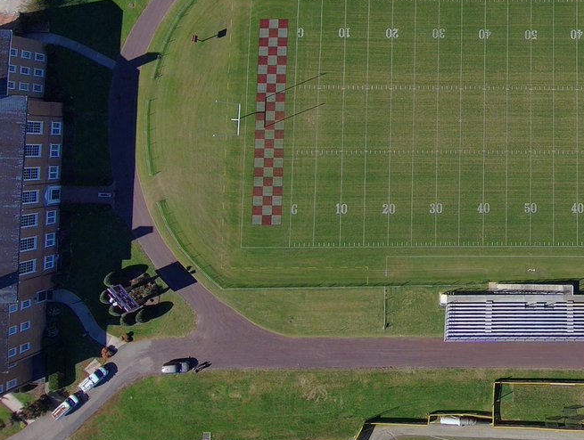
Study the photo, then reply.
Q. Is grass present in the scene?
Yes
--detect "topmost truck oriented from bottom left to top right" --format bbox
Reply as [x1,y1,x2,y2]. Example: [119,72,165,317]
[72,367,107,394]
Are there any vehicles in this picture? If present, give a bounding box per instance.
[160,362,187,374]
[72,367,107,394]
[46,394,80,425]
